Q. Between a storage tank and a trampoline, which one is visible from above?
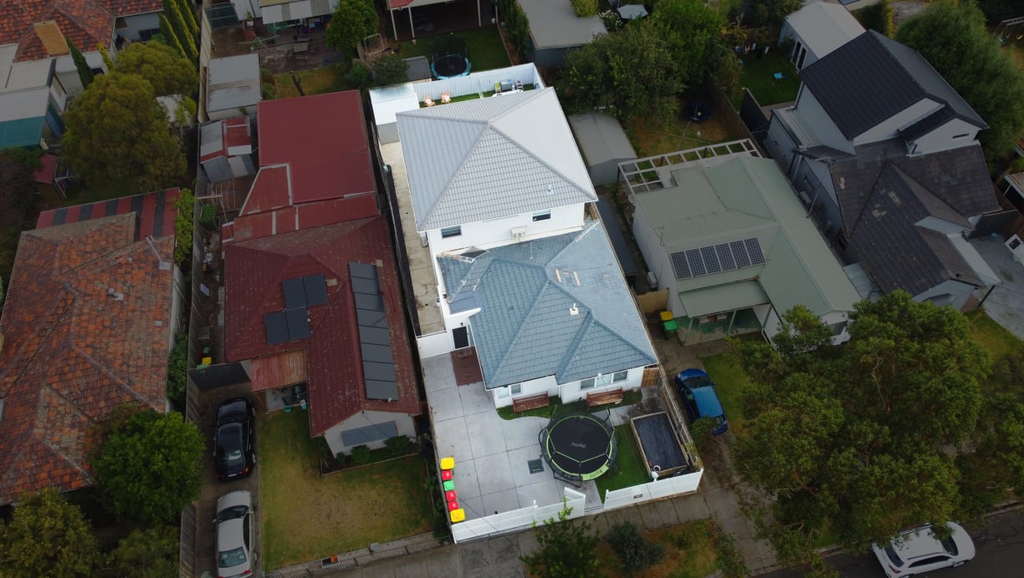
trampoline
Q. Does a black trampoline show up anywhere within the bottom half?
Yes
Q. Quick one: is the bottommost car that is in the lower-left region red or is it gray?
gray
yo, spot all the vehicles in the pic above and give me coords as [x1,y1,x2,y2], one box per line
[870,523,979,578]
[673,363,732,439]
[210,486,262,578]
[208,392,257,485]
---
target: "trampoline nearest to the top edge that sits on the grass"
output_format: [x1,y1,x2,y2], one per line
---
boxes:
[426,37,475,77]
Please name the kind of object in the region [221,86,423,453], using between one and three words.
house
